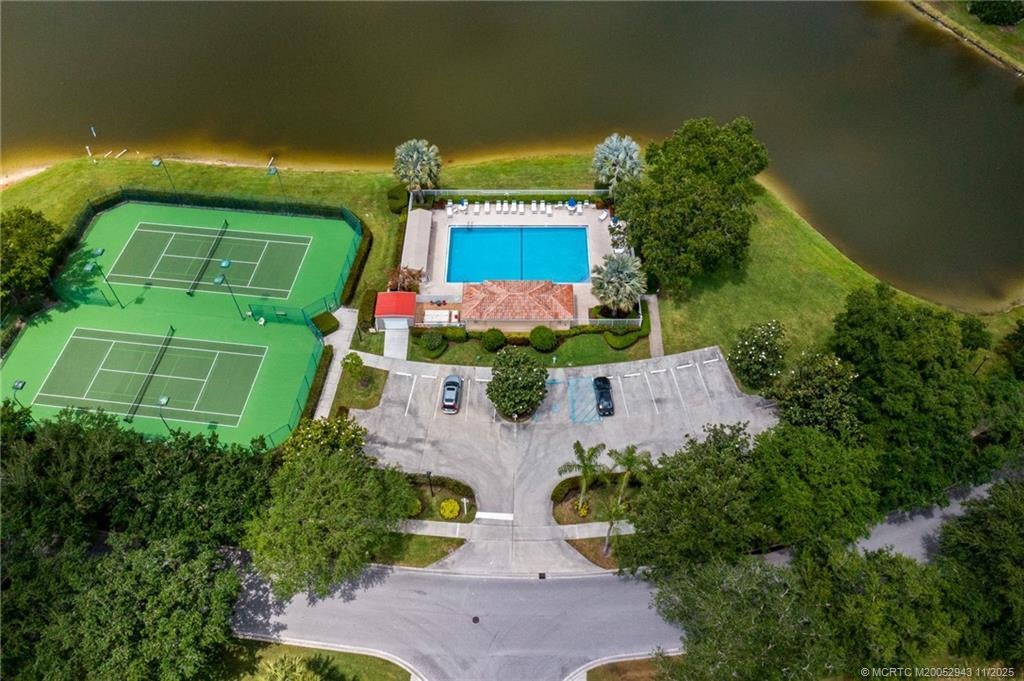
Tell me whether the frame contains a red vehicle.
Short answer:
No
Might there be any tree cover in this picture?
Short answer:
Yes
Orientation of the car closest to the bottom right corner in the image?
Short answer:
from top to bottom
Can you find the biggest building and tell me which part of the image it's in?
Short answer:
center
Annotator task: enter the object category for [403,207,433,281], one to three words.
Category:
building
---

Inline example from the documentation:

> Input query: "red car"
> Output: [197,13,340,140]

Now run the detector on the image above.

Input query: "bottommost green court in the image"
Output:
[0,299,322,459]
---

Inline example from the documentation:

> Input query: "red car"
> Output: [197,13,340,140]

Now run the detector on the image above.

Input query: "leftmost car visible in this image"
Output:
[442,377,463,414]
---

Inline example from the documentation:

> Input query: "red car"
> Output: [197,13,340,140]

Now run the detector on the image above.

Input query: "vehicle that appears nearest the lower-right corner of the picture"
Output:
[593,379,613,416]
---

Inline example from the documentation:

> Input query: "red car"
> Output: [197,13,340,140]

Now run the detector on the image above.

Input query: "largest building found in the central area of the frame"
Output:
[460,279,575,334]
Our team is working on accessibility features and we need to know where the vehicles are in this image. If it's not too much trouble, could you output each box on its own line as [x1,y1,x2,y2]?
[593,379,613,416]
[442,377,463,414]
